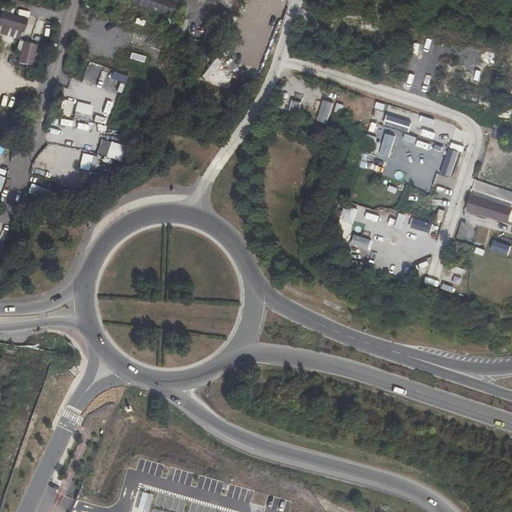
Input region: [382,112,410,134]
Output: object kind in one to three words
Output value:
house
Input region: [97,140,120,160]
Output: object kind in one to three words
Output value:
house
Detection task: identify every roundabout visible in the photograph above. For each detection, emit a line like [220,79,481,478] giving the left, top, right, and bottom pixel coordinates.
[75,202,265,392]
